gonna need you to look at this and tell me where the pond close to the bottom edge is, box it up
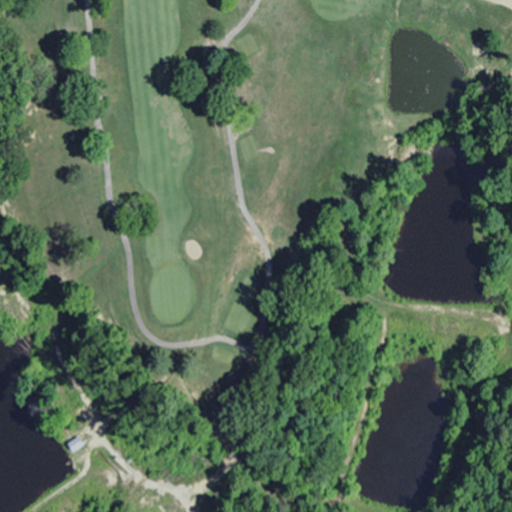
[356,356,449,510]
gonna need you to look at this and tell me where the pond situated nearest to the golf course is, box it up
[388,28,466,114]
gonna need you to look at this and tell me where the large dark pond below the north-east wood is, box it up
[385,138,490,304]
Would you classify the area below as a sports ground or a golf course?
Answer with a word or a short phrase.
golf course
